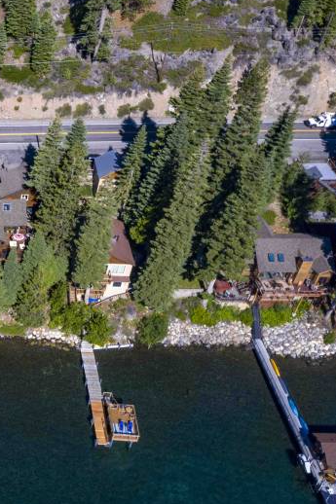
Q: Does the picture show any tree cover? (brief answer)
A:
Yes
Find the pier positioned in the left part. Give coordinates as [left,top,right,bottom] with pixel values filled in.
[78,337,109,451]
